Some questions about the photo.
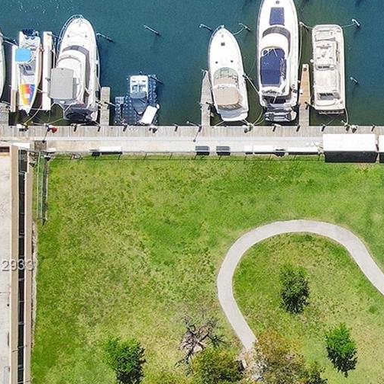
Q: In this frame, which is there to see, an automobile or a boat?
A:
boat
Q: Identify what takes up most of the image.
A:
grass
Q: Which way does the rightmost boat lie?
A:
up and down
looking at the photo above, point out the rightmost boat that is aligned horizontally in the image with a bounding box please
[259,107,297,122]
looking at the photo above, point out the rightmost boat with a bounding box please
[310,21,348,118]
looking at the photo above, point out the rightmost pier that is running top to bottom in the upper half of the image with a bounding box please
[298,63,312,125]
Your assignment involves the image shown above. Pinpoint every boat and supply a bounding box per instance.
[49,10,107,122]
[254,0,304,125]
[208,19,253,125]
[259,107,297,122]
[131,75,151,114]
[12,21,43,116]
[310,21,348,118]
[0,26,11,103]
